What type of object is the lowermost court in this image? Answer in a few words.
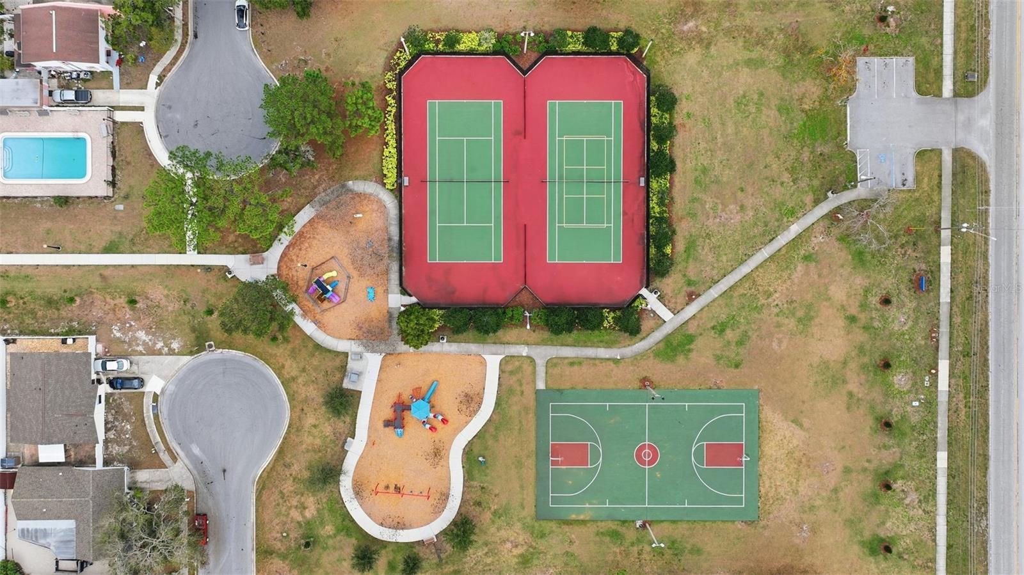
basketball court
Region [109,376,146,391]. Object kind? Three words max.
car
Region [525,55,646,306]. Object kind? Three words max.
tennis court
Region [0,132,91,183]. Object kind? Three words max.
swimming pool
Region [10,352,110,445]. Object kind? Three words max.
house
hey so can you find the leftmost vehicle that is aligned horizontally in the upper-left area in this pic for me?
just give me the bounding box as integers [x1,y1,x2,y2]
[53,88,95,104]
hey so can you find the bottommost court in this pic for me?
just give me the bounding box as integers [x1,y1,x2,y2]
[536,388,759,520]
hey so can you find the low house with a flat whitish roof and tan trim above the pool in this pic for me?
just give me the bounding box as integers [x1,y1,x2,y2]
[0,79,49,110]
